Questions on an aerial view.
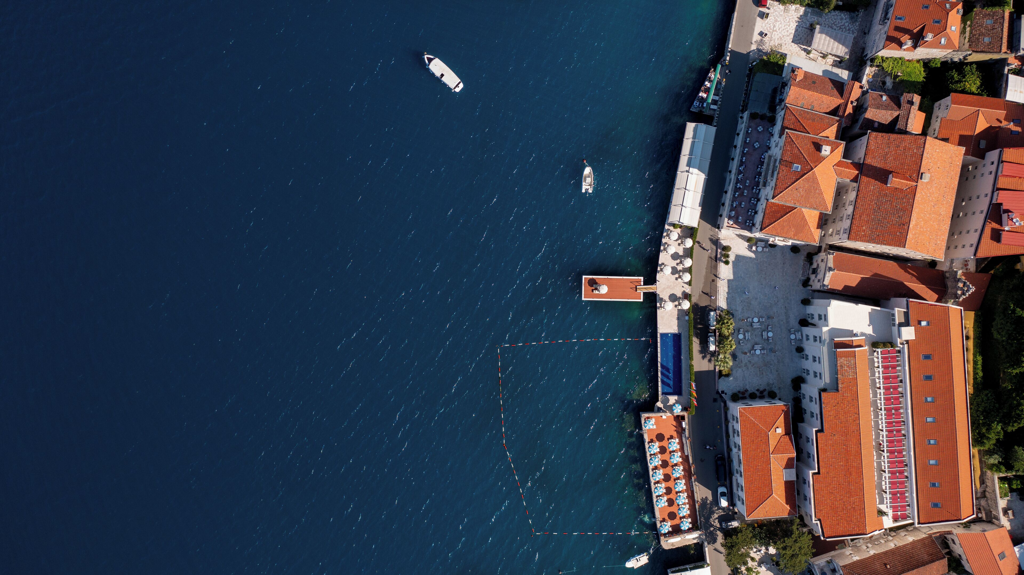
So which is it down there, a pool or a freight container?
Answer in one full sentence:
Of the two, only a pool appears.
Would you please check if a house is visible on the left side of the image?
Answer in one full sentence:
No, no house can be made out on the left side of the image.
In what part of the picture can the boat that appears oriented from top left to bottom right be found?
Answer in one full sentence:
Look in the top portion of the view to spot the boat that appears oriented from top left to bottom right.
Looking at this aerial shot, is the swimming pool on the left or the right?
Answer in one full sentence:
It is on the right.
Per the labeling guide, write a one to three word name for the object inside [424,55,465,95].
boat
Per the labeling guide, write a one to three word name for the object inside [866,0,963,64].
house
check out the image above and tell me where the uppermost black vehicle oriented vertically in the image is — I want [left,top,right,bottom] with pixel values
[715,452,727,476]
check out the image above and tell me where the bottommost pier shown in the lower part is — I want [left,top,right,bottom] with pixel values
[640,413,701,536]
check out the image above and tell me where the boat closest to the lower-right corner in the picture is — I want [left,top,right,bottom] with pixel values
[625,553,649,569]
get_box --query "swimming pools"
[659,330,683,396]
